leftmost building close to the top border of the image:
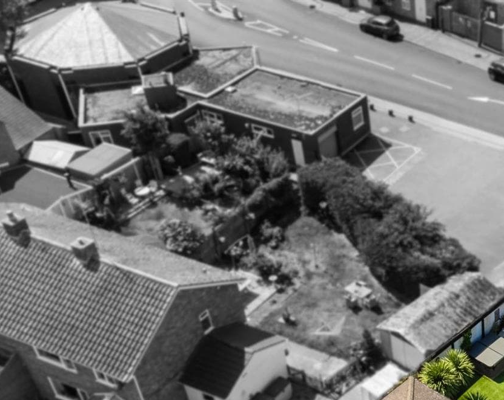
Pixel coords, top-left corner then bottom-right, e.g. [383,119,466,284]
[7,0,188,136]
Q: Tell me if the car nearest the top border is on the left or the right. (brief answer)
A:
right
